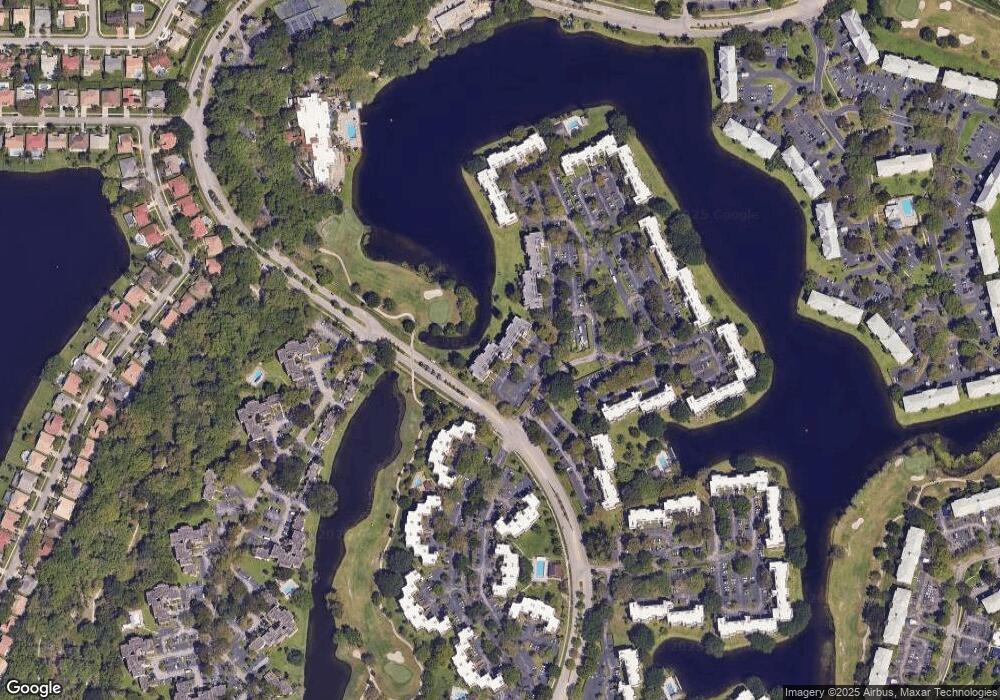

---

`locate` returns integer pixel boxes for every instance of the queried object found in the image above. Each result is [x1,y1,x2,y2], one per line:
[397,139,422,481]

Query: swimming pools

[561,115,584,136]
[246,367,264,387]
[532,558,549,582]
[664,677,682,700]
[277,579,299,597]
[885,197,918,228]
[412,472,430,490]
[340,108,360,146]
[655,450,671,472]
[450,686,469,700]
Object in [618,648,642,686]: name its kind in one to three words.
building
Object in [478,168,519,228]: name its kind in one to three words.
building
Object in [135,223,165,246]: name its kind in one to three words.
house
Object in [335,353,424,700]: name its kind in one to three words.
golf course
